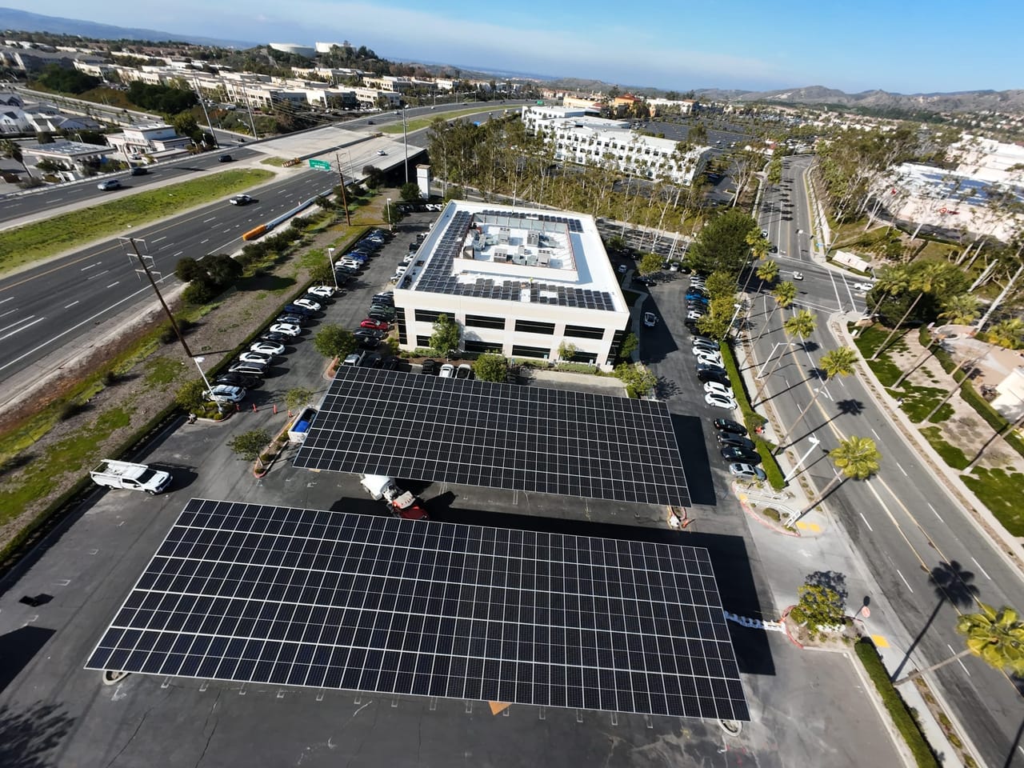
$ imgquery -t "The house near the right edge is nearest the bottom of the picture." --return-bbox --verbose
[985,370,1024,418]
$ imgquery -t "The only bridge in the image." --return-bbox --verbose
[252,120,426,181]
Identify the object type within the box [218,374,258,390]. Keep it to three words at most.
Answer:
car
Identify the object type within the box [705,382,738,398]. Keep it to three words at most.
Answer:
car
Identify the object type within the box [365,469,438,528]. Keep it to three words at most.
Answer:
truck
